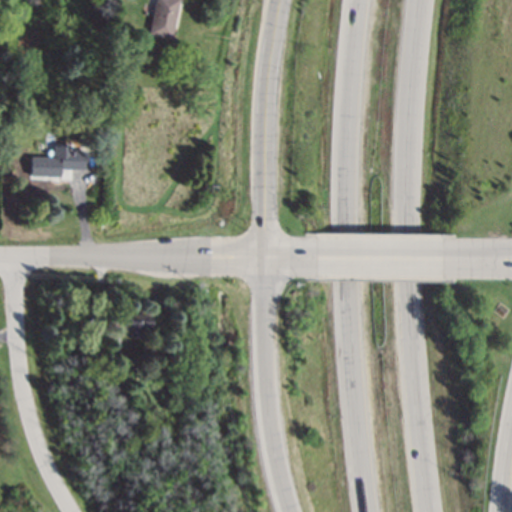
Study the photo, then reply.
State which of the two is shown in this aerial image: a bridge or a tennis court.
bridge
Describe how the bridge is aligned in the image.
from left to right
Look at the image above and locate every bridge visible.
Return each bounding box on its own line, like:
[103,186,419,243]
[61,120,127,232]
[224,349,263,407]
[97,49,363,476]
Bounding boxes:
[306,234,455,281]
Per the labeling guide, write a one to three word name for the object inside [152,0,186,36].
house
